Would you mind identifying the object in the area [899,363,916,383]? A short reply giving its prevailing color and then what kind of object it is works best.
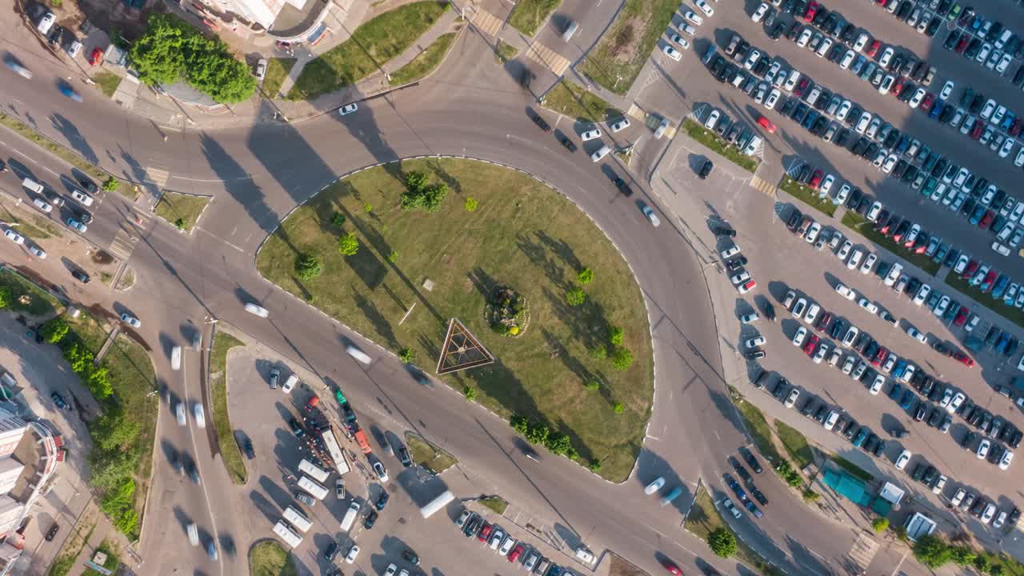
white car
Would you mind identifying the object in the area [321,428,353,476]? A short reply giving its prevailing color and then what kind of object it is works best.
white bus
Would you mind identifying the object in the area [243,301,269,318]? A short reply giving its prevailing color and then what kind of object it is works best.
white vehicle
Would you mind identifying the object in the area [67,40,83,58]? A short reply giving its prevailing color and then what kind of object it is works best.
white car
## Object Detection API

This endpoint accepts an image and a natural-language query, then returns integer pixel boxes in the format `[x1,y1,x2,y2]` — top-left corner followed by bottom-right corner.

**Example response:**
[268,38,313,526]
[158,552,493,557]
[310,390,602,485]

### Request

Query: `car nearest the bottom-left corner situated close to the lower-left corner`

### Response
[44,520,61,541]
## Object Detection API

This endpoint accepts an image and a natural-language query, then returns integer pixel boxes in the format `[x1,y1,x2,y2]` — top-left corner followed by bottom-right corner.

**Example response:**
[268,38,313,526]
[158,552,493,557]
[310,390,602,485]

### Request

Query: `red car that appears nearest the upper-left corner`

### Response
[89,46,104,67]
